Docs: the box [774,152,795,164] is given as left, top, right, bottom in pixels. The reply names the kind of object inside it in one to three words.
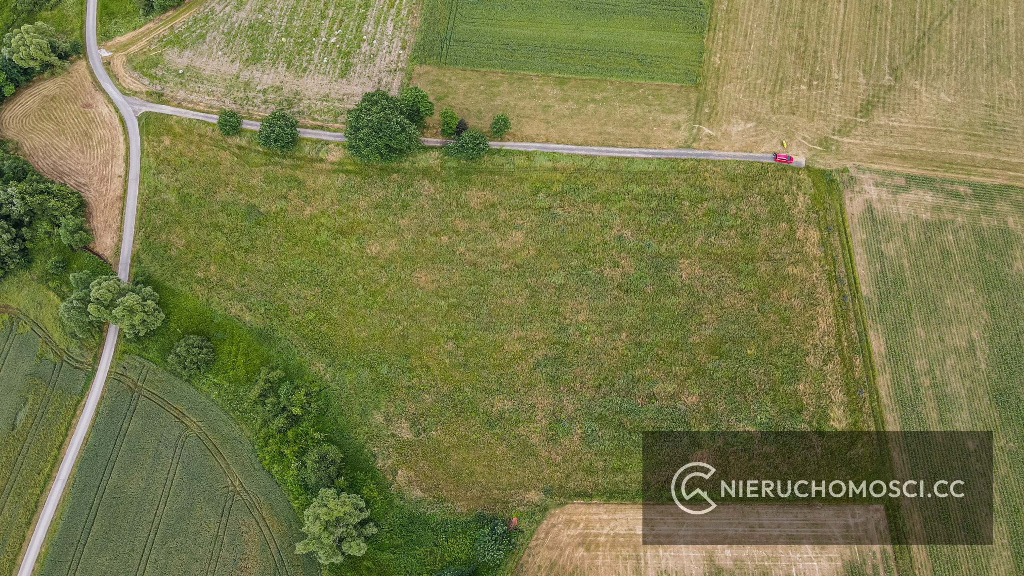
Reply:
vehicle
